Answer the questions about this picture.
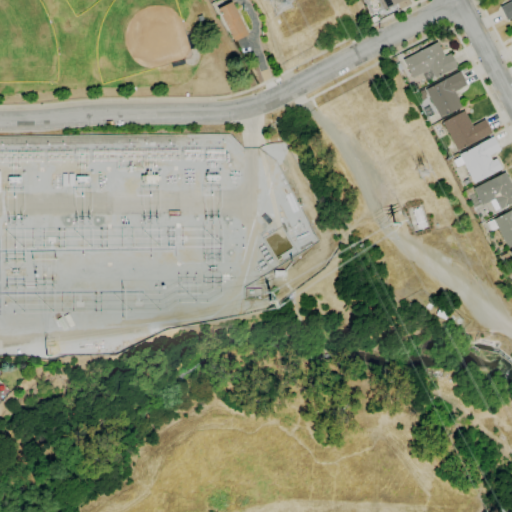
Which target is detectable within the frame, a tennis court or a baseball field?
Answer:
baseball field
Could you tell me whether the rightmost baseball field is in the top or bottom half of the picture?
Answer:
top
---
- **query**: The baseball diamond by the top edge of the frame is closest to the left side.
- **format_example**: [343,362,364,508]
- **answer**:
[0,0,60,82]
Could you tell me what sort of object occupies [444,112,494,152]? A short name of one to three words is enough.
house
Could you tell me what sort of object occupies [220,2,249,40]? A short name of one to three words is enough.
house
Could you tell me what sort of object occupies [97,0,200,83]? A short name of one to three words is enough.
baseball field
